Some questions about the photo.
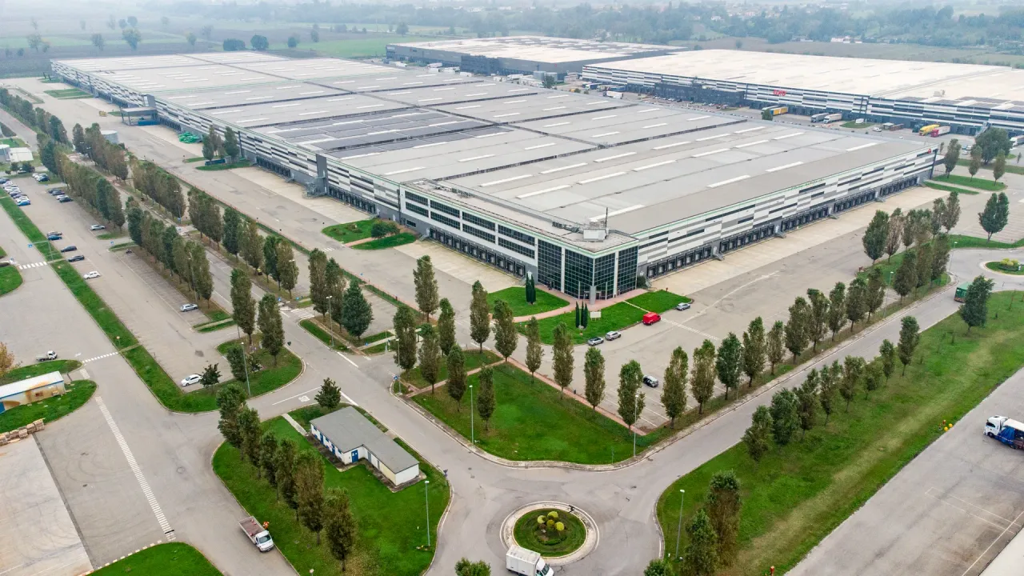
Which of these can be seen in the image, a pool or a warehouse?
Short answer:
warehouse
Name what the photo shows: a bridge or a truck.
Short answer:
truck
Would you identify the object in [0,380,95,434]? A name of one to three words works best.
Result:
shed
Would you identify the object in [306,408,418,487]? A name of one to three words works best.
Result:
building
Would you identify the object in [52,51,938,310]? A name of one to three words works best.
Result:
warehouse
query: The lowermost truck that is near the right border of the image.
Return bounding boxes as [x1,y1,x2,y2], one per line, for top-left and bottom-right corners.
[982,421,1024,447]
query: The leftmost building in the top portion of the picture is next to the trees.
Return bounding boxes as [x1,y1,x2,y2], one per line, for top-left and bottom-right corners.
[9,148,35,173]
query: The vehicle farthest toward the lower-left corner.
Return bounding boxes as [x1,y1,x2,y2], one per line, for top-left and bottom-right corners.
[33,346,59,360]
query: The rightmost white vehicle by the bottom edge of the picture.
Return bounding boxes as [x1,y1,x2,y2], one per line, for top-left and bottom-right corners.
[507,541,554,576]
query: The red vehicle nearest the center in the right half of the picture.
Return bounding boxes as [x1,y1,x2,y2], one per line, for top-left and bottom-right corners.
[641,311,663,324]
